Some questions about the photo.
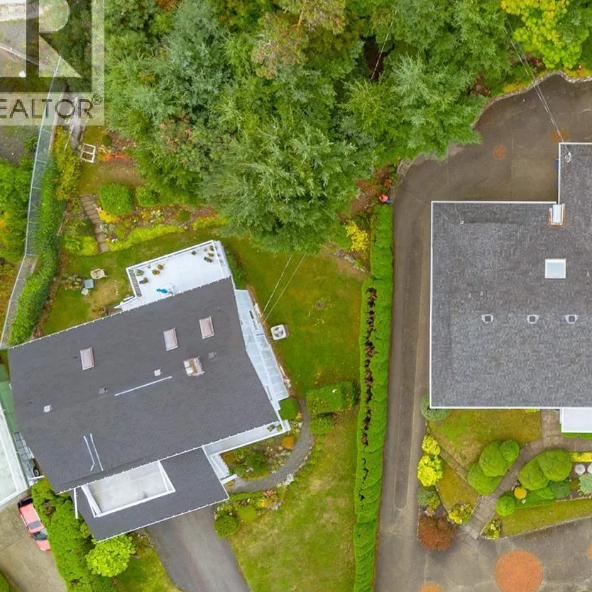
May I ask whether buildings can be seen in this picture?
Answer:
Yes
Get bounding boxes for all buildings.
[429,142,592,435]
[8,238,304,542]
